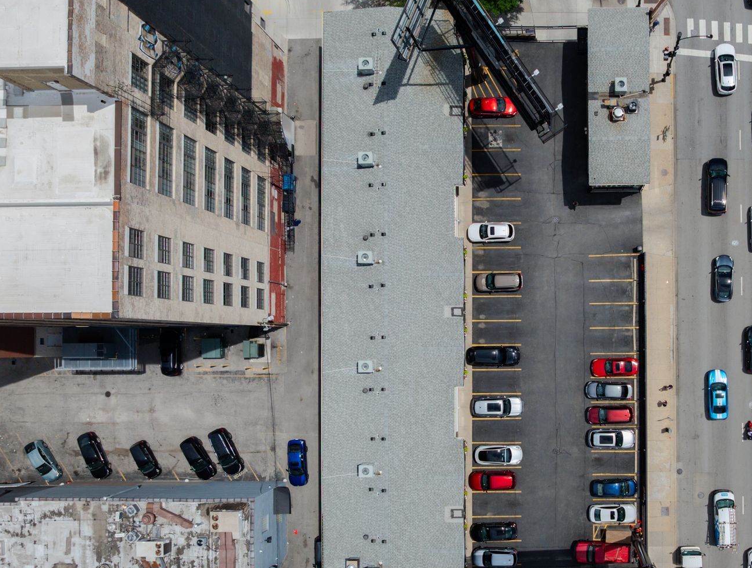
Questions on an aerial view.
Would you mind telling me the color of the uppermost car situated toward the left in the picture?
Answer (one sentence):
The color of the uppermost car situated toward the left is black.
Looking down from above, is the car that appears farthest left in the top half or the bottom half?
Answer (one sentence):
The car that appears farthest left sits in the bottom half of the picture.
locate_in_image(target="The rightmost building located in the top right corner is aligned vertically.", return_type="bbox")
[586,8,651,196]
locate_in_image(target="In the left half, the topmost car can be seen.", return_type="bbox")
[158,329,185,378]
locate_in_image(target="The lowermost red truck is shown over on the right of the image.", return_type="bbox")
[572,540,632,566]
